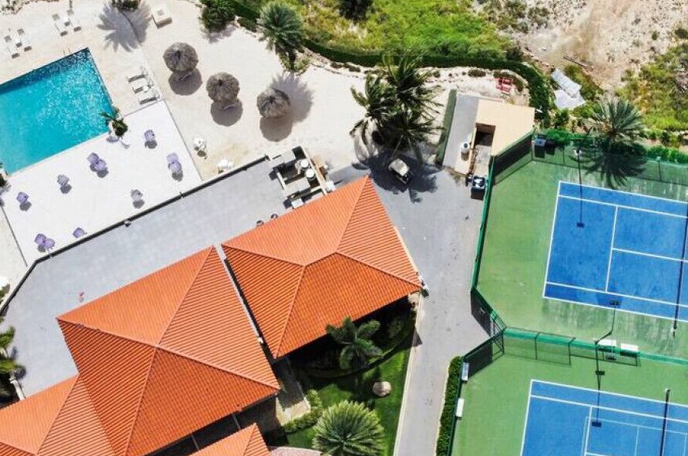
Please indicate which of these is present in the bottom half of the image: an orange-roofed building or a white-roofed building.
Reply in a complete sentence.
You can see an orange-roofed building in the bottom half of the image.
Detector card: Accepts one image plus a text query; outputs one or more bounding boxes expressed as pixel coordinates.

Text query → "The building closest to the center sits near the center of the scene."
[220,176,424,357]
